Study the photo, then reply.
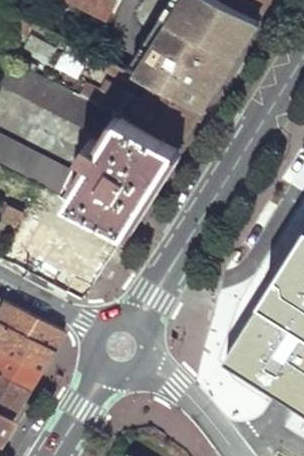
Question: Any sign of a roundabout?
Yes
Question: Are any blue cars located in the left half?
No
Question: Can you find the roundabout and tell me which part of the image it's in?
bottom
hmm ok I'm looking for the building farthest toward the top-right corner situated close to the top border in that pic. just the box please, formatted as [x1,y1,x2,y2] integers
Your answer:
[130,0,266,119]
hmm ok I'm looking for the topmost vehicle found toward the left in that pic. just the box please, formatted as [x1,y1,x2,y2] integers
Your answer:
[100,306,120,319]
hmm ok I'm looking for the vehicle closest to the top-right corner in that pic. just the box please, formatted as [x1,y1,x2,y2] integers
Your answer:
[292,150,304,172]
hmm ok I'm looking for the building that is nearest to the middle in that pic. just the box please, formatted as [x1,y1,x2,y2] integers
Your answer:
[58,122,180,246]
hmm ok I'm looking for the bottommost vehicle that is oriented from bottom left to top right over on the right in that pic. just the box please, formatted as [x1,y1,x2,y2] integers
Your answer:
[228,248,245,267]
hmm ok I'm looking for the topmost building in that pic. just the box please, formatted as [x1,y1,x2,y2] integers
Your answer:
[64,0,110,22]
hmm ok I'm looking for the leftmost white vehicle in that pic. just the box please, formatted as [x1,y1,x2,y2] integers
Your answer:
[28,418,48,433]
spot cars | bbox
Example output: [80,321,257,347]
[28,418,48,433]
[228,248,245,267]
[100,306,120,319]
[246,224,264,246]
[292,150,304,172]
[185,172,201,192]
[45,430,61,450]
